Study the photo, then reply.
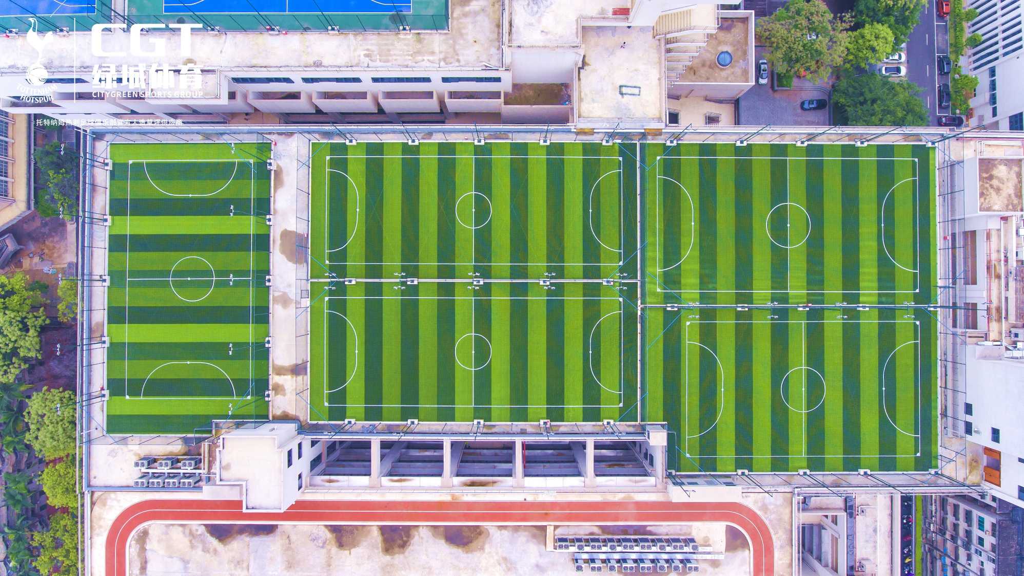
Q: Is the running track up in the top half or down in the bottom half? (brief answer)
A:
bottom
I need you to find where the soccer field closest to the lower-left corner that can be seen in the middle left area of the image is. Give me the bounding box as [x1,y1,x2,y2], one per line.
[104,141,274,436]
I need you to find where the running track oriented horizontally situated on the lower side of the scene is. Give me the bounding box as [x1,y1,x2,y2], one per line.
[105,499,775,576]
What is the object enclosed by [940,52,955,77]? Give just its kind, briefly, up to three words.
car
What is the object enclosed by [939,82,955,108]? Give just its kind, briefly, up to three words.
car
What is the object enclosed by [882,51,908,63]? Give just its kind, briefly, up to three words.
vehicle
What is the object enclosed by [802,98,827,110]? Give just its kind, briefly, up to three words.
vehicle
